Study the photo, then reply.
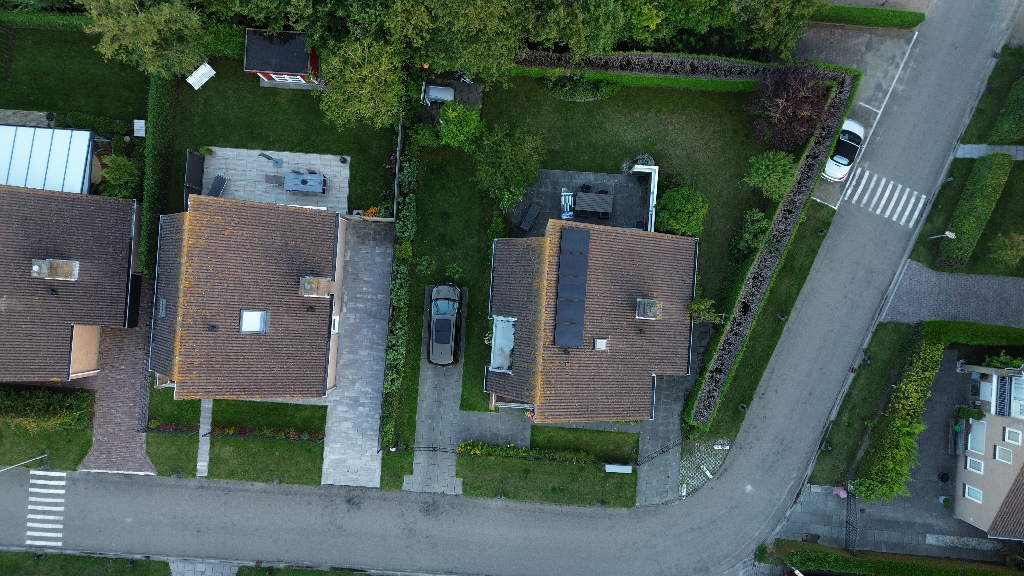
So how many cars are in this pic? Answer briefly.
two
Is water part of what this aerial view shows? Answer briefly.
No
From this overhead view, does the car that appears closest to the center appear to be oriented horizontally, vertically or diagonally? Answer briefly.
vertically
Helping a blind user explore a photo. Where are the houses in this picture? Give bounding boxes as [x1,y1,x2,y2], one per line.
[0,185,142,382]
[955,363,1024,542]
[482,219,701,423]
[148,194,347,400]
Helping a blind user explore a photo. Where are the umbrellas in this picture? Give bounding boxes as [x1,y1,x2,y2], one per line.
[260,153,282,167]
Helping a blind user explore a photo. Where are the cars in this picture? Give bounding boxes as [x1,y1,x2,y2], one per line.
[424,283,465,367]
[820,118,867,186]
